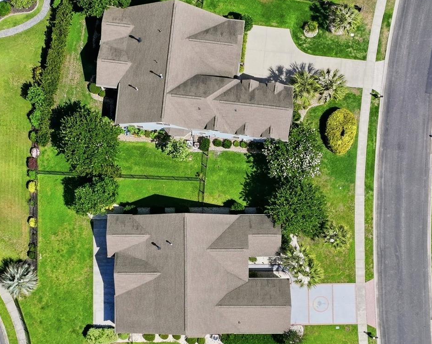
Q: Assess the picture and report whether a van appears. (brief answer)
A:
No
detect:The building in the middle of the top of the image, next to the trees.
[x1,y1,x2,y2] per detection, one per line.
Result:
[96,0,294,141]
